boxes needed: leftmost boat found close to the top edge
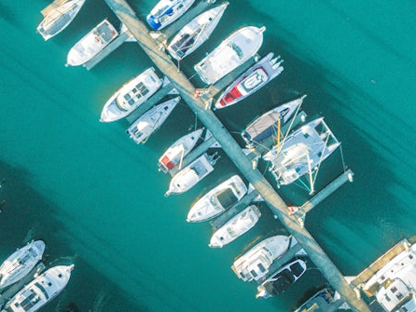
[37,0,90,39]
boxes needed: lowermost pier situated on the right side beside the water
[323,283,358,312]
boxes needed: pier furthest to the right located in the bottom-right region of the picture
[345,236,408,291]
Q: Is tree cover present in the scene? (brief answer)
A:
No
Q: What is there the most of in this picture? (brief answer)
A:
water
